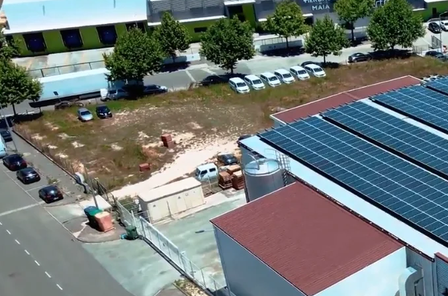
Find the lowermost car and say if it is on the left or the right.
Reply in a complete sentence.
The lowermost car appears in the left half of the scene.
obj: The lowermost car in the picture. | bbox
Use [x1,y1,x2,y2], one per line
[40,183,68,203]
